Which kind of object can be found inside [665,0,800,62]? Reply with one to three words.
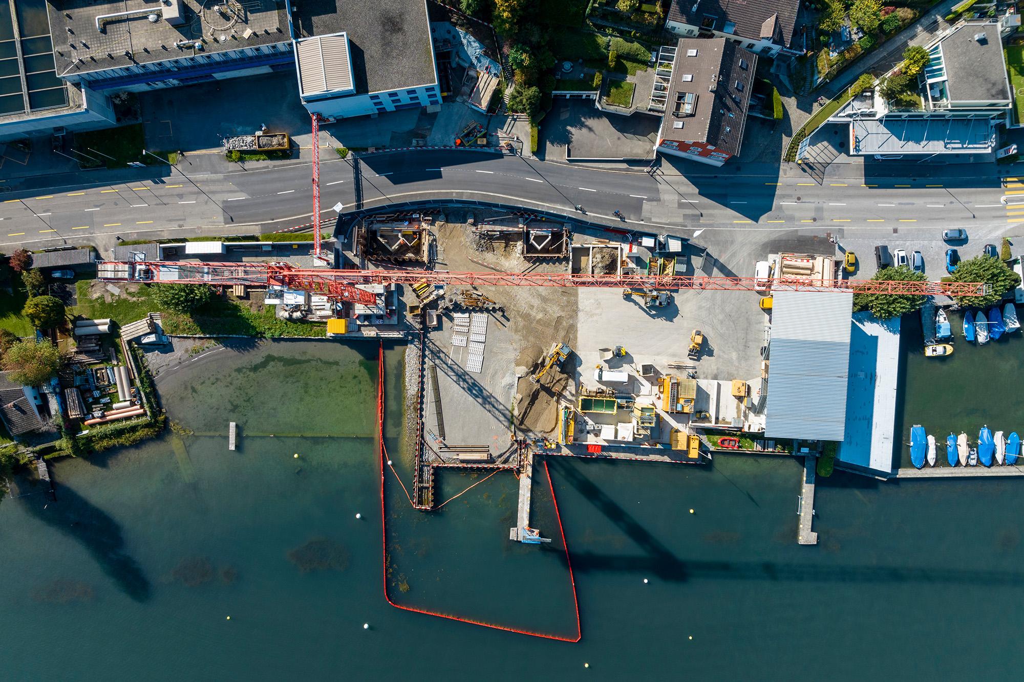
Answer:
house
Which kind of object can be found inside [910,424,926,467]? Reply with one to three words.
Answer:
boat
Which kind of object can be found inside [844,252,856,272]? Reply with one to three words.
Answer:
vehicle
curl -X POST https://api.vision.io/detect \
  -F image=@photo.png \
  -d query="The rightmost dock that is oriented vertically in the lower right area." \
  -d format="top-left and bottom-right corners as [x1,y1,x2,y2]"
[797,456,817,544]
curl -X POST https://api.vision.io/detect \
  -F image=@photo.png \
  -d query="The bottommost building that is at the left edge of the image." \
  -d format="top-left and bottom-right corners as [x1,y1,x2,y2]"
[0,373,53,435]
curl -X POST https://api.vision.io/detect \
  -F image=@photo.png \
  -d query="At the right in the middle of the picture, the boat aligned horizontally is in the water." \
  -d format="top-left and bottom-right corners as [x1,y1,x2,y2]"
[923,344,953,358]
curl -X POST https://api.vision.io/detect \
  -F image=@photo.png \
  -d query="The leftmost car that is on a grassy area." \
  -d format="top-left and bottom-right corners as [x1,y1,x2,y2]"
[52,268,75,280]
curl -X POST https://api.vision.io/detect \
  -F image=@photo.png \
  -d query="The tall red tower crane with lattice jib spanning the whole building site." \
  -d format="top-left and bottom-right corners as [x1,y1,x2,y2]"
[95,251,992,323]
